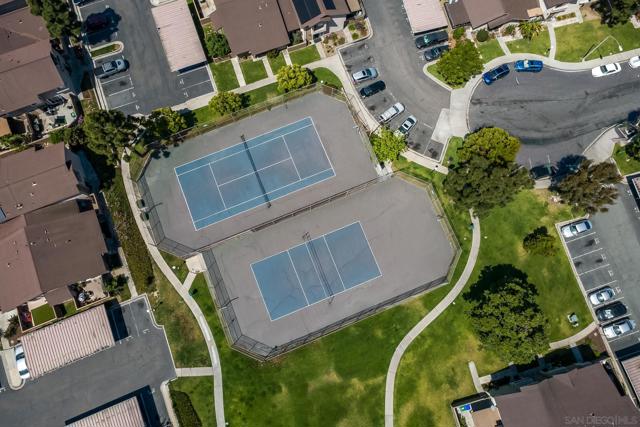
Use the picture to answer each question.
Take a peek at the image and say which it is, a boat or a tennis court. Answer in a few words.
tennis court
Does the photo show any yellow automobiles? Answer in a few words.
No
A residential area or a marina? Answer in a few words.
residential area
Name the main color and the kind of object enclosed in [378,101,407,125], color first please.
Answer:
white car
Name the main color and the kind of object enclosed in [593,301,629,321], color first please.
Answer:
black car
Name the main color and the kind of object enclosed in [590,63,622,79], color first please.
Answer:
white car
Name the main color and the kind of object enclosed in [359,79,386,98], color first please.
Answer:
black car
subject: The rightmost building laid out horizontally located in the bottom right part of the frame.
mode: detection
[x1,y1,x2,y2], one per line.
[484,361,640,427]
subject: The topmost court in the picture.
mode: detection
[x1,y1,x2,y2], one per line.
[136,86,379,256]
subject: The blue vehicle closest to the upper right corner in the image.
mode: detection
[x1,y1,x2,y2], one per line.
[514,58,543,74]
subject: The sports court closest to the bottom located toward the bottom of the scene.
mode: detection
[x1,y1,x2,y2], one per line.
[202,171,461,361]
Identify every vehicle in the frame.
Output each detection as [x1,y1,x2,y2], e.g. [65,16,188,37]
[422,43,448,62]
[378,101,407,125]
[529,164,555,179]
[600,316,635,338]
[514,58,543,74]
[585,286,618,306]
[414,30,449,50]
[11,346,29,380]
[394,113,419,138]
[351,66,379,84]
[481,64,510,84]
[593,301,629,321]
[359,79,386,98]
[627,56,640,70]
[590,63,622,79]
[560,219,594,238]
